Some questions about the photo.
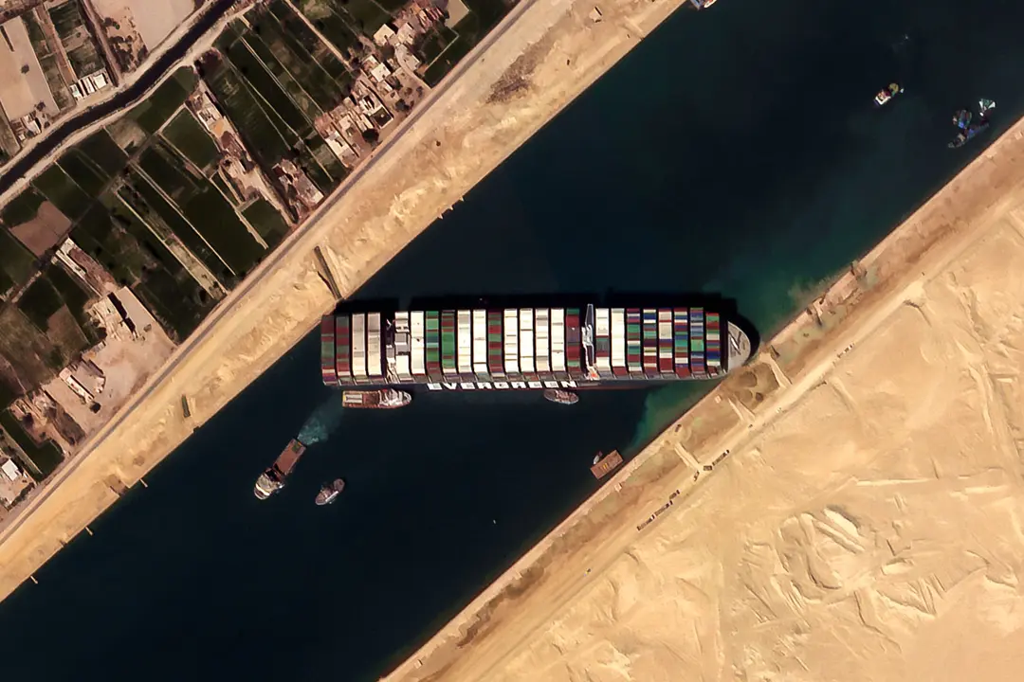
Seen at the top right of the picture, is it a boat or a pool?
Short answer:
boat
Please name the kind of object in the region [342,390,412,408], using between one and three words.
vessel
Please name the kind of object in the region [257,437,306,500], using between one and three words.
vessel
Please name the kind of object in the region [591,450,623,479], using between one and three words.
ship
